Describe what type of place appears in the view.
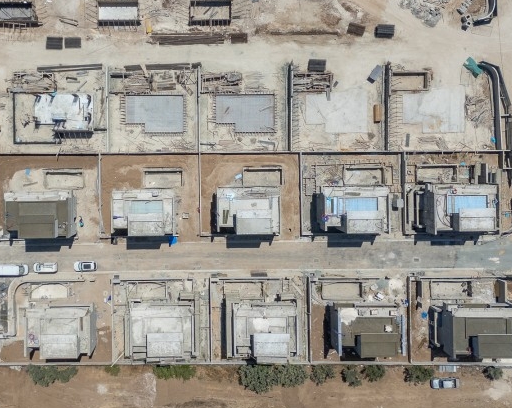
residential area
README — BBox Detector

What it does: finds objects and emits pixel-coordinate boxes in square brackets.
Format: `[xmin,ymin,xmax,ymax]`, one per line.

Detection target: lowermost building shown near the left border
[25,302,97,358]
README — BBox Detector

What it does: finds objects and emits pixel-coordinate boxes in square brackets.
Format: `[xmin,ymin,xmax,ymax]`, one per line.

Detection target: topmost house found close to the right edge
[416,182,498,231]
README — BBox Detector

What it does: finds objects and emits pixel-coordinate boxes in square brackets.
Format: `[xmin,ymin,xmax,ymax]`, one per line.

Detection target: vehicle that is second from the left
[33,260,58,273]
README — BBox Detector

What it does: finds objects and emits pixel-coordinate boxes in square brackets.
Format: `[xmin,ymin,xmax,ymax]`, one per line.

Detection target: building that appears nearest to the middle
[213,184,280,234]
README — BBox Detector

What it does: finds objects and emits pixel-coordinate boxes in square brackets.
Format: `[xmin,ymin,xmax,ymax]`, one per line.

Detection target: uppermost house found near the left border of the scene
[0,188,77,239]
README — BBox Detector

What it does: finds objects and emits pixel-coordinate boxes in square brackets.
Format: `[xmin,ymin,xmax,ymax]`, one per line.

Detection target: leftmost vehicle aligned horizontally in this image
[0,263,30,276]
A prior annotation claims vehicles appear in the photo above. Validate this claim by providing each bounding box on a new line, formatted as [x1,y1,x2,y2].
[0,263,30,276]
[74,260,98,273]
[33,260,58,273]
[429,376,458,390]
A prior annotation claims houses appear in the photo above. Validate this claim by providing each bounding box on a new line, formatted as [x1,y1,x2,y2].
[416,182,498,231]
[0,188,77,239]
[213,184,280,234]
[111,186,175,236]
[434,301,512,356]
[25,302,97,358]
[315,183,389,234]
[330,301,405,355]
[130,297,192,362]
[231,298,296,362]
